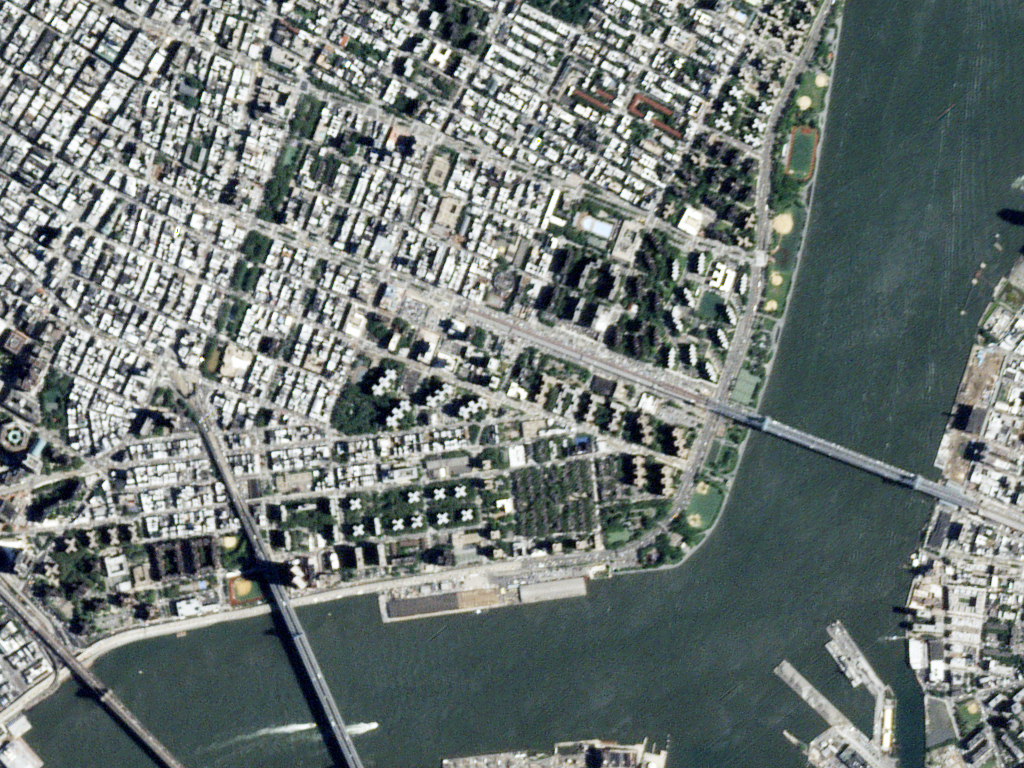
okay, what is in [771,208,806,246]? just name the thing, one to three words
baseball field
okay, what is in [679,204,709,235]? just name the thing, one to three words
building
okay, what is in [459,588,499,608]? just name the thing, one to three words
shed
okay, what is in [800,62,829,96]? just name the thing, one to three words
baseball field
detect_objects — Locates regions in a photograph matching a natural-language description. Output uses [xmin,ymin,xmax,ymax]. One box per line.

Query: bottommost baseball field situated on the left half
[230,573,264,604]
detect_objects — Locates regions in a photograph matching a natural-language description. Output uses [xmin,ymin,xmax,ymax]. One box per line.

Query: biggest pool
[574,210,618,244]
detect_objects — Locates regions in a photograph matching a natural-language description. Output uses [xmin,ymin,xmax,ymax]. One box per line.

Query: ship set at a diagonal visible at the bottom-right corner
[825,641,862,687]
